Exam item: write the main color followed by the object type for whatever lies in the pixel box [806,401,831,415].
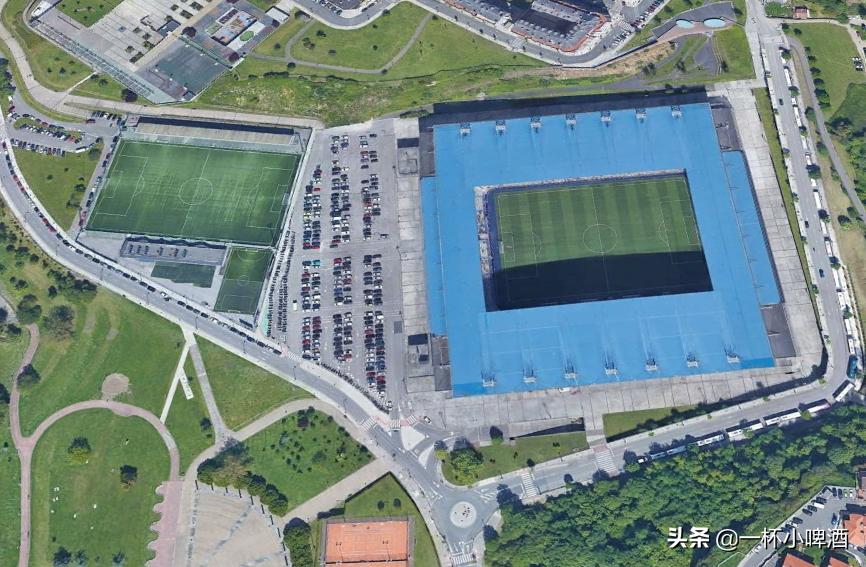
white vehicle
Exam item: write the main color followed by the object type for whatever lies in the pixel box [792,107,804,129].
white vehicle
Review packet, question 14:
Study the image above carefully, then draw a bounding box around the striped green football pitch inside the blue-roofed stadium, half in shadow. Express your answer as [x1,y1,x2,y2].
[491,175,711,305]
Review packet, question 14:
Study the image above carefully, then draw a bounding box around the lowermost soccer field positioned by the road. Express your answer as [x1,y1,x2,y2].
[214,246,272,314]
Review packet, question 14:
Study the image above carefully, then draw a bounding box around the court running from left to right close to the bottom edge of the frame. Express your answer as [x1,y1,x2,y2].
[326,522,416,566]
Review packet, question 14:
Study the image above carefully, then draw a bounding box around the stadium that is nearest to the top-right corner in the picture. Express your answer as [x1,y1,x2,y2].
[419,96,797,399]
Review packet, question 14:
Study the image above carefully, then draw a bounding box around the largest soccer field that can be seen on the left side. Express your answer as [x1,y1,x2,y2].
[82,138,304,250]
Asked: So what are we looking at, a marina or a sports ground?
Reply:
sports ground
